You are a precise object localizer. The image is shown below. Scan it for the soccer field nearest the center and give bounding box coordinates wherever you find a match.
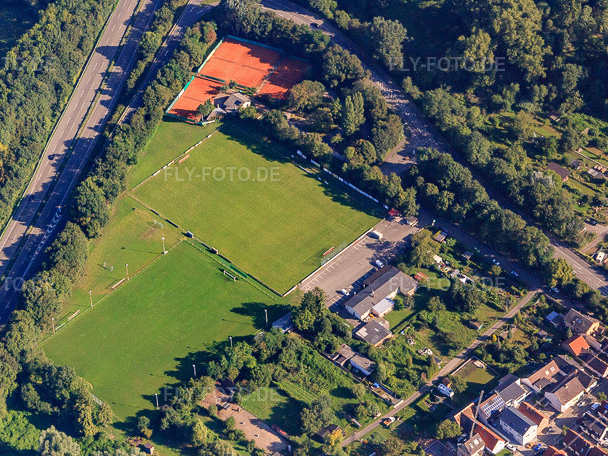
[132,116,392,295]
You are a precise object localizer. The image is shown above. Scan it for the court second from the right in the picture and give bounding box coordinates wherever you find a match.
[229,48,282,91]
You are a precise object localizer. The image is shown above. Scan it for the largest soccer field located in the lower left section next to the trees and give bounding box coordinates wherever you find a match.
[43,241,279,429]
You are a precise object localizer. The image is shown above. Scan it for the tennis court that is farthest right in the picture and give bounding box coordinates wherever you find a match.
[258,58,310,99]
